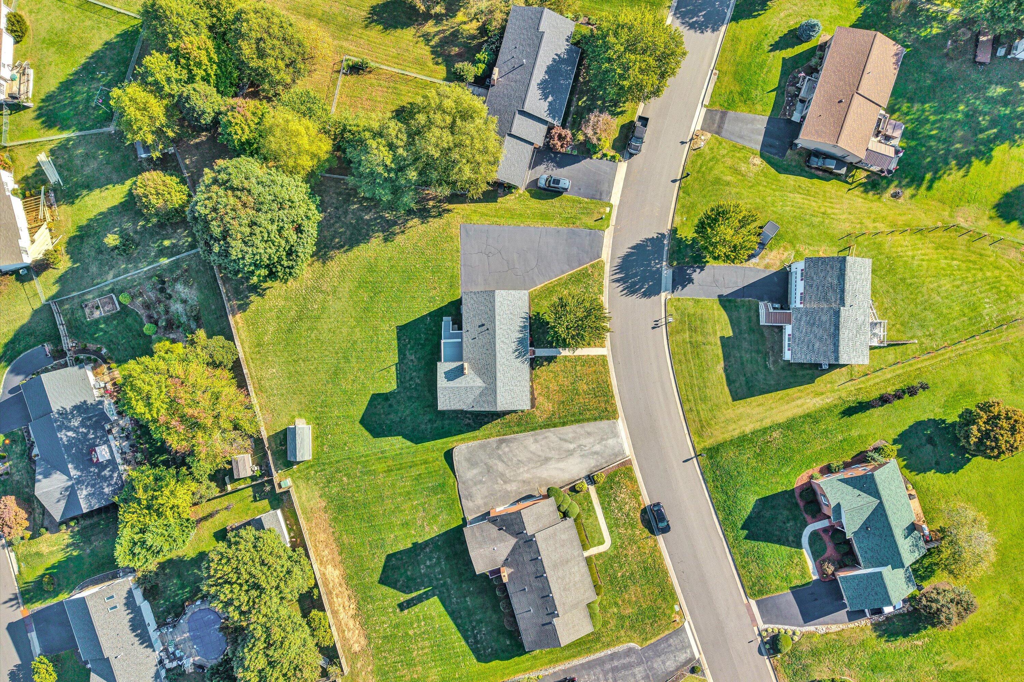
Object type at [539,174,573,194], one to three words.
car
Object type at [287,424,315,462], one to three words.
shed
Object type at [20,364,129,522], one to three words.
house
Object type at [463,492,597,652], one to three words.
house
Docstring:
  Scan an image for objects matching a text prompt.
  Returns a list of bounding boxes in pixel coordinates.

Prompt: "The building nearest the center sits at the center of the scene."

[437,290,531,411]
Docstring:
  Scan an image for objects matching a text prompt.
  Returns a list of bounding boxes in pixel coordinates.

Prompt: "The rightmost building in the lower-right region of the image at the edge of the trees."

[808,458,930,611]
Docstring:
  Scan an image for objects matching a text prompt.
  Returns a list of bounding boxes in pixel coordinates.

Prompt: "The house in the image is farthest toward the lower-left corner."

[63,577,181,682]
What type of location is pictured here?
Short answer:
residential area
